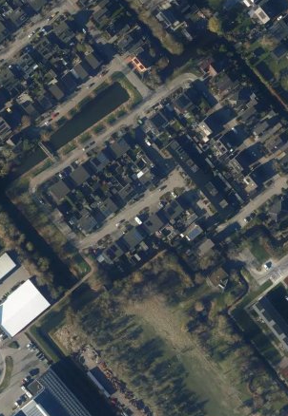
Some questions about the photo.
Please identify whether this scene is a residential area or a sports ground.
residential area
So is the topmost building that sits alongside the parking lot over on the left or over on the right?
left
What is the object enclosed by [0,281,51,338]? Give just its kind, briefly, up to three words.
building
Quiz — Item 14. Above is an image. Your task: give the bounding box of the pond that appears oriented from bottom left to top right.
[6,82,130,179]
